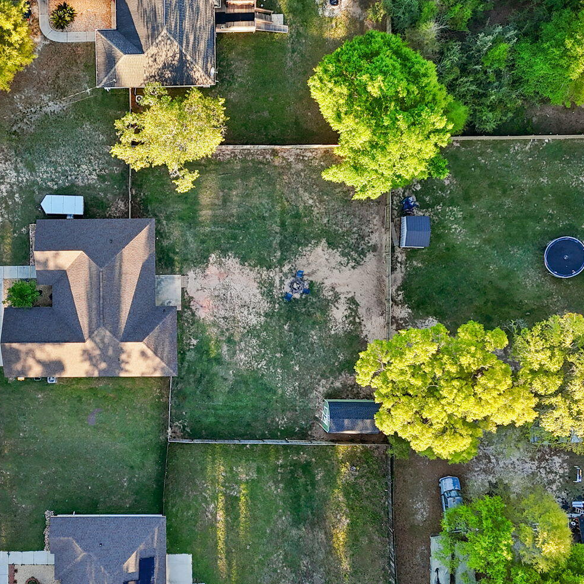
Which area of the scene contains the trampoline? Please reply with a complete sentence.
The trampoline appears toward the right of the photo.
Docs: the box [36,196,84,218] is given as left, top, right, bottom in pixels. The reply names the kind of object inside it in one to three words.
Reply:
trailer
